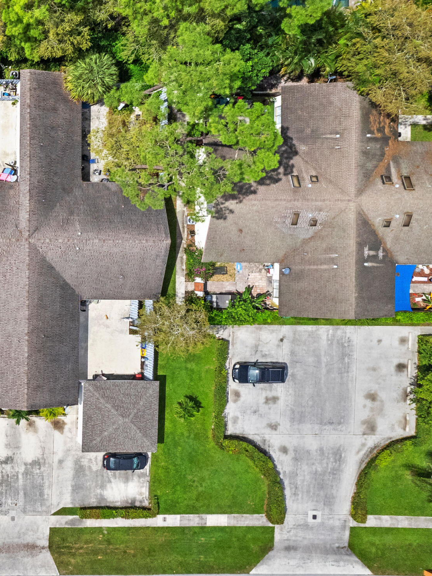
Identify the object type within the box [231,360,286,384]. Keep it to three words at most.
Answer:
car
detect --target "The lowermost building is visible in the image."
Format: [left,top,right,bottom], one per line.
[80,381,159,453]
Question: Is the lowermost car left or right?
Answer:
left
